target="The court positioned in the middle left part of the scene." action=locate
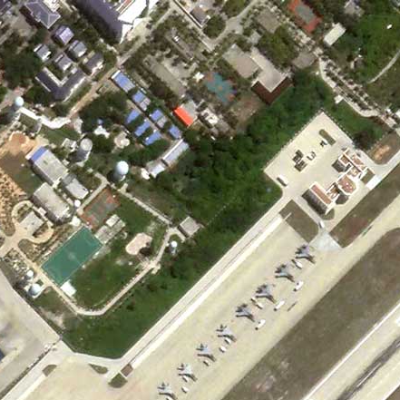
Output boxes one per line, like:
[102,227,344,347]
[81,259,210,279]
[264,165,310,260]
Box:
[79,187,120,229]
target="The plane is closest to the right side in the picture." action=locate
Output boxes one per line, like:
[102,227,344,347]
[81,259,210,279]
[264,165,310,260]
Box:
[297,246,314,262]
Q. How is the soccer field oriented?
on a diagonal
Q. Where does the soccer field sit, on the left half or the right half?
left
